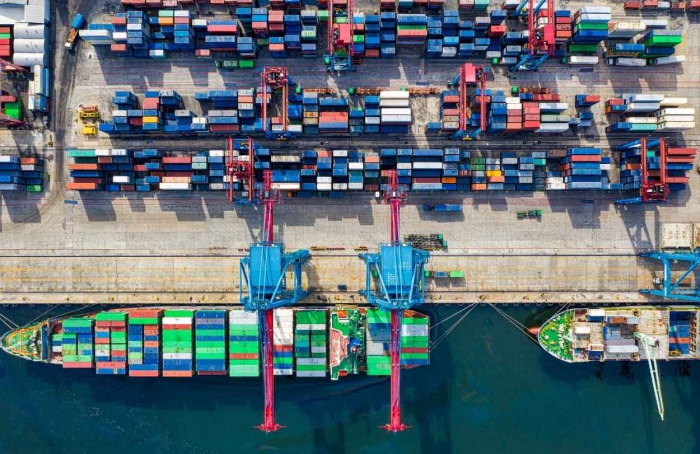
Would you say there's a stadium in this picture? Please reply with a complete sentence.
No, there appears to be no stadium in this shot.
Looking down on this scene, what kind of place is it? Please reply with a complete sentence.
This looks like a port.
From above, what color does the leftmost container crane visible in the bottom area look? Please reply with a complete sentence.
In this view, the leftmost container crane visible in the bottom area is blue.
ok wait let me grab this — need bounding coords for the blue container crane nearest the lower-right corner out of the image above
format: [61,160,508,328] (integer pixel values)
[640,253,700,307]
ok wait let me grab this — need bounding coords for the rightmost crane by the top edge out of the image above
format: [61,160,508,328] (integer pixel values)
[508,0,555,72]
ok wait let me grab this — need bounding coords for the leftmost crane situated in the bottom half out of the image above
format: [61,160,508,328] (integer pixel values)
[239,171,311,436]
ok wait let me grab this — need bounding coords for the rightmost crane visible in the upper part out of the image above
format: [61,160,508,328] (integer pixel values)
[611,137,669,206]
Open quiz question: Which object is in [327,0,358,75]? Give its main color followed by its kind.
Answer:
red crane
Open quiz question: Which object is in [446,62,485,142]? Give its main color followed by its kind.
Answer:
red crane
